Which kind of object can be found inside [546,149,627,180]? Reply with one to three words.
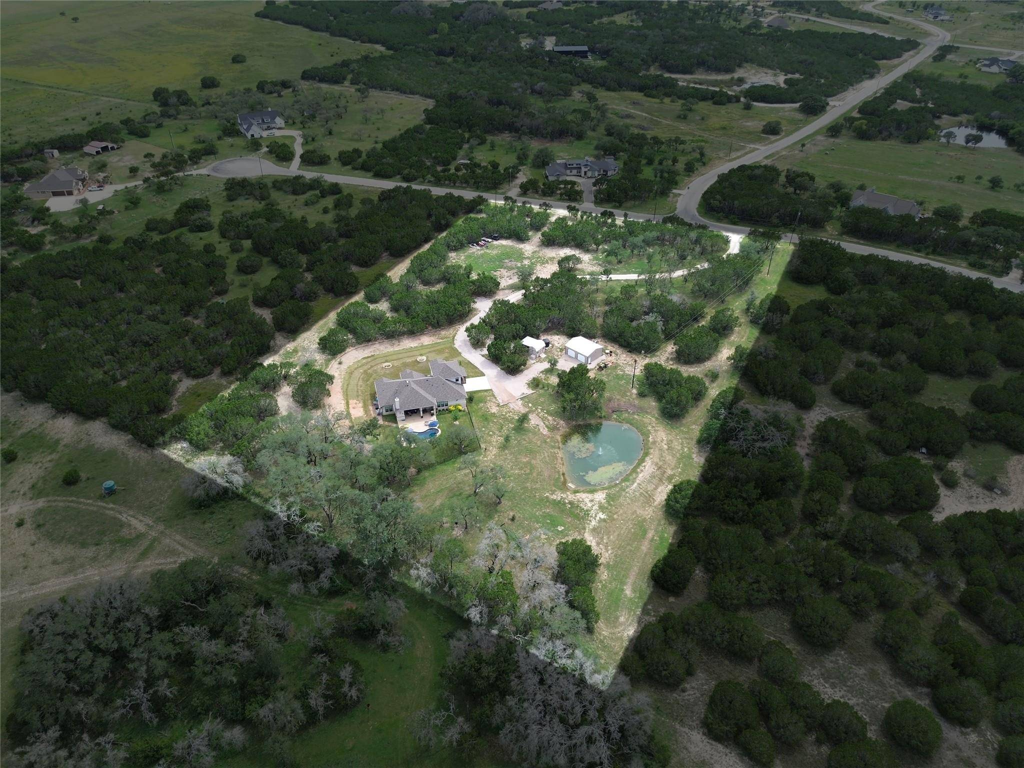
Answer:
house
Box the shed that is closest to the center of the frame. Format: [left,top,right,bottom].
[521,339,546,359]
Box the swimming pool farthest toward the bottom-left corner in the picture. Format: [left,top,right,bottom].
[413,427,441,441]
